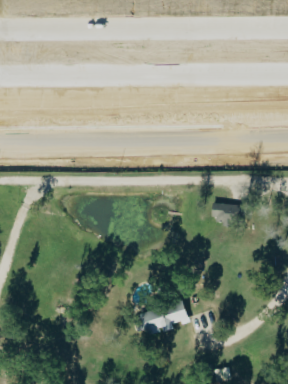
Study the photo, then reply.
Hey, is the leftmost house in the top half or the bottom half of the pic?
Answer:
bottom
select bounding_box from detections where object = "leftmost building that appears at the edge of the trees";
[144,301,190,331]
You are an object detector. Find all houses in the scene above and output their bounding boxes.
[144,301,190,331]
[212,201,240,230]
